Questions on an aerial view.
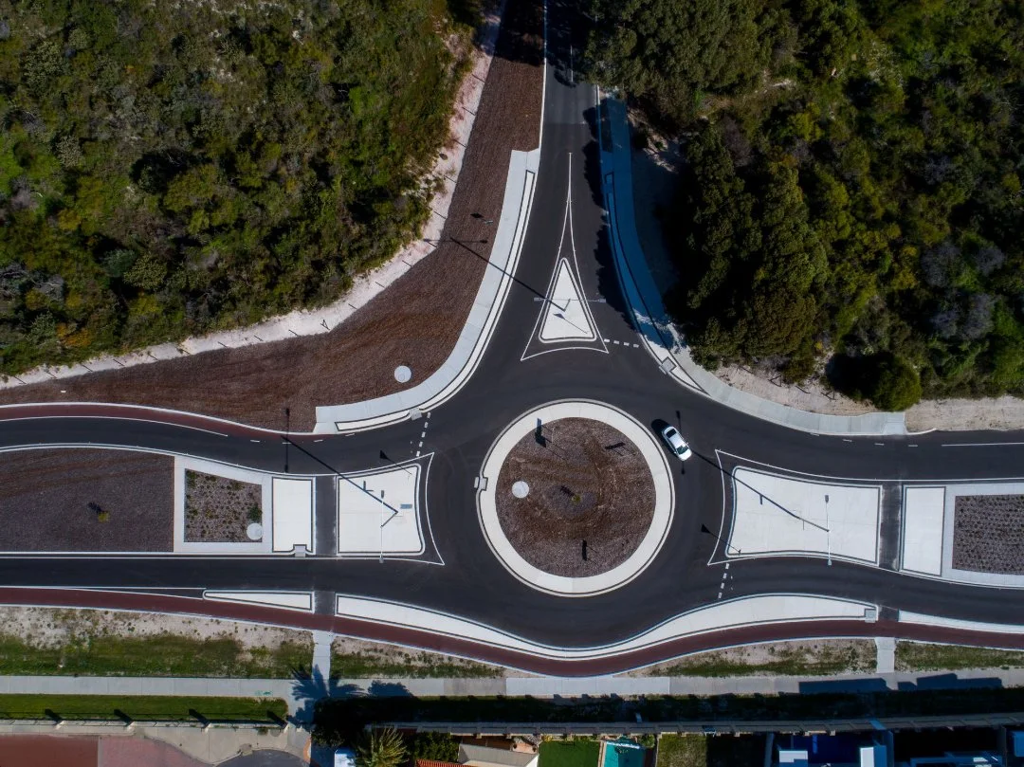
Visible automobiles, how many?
1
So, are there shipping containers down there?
No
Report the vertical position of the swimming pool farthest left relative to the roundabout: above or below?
below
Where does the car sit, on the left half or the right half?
right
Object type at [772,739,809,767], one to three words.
house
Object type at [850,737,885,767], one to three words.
house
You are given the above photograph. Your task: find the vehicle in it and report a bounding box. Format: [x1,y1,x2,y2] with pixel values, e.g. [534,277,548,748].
[663,427,693,461]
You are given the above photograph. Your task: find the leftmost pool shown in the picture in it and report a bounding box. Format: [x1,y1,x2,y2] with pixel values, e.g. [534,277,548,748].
[602,739,656,767]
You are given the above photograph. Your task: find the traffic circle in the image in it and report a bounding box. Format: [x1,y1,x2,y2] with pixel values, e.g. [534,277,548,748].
[421,312,747,648]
